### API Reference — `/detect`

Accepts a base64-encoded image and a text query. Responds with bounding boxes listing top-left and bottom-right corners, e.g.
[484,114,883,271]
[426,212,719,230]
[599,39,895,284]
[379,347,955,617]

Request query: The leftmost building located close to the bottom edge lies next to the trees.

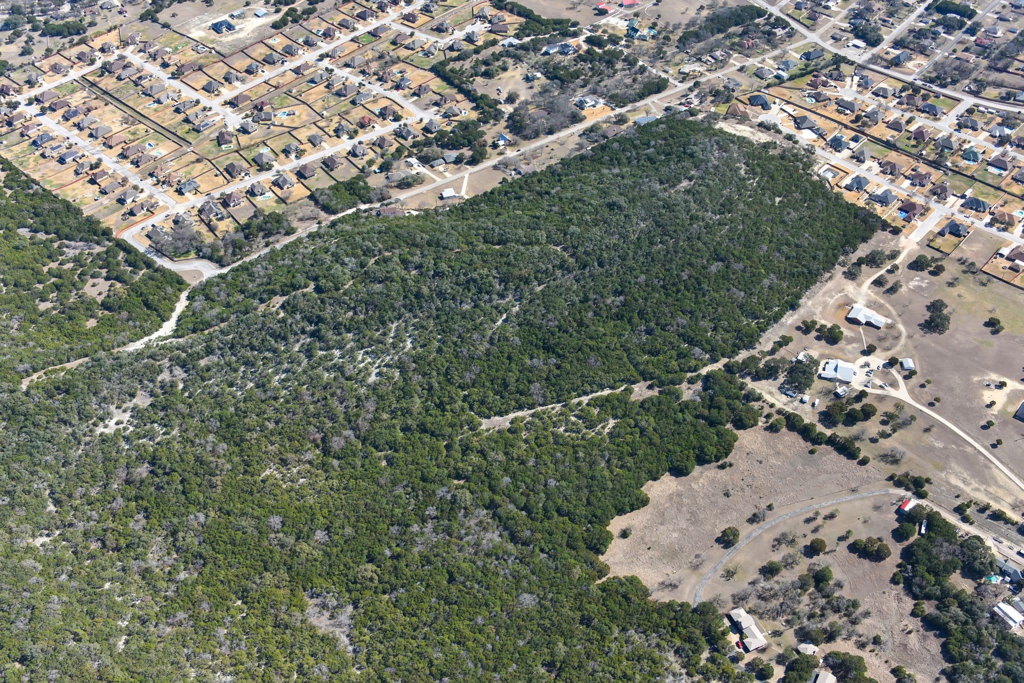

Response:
[728,606,764,655]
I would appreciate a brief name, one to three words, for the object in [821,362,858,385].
house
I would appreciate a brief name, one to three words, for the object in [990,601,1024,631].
barn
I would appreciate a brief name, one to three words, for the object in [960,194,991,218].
house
